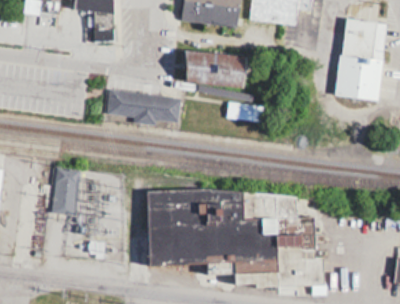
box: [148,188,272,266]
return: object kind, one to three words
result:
building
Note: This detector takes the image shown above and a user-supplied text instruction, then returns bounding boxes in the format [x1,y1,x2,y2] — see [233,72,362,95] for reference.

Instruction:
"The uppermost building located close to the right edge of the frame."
[342,18,387,59]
